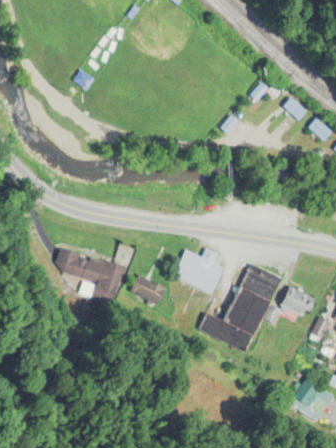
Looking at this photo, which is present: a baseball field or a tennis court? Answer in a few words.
baseball field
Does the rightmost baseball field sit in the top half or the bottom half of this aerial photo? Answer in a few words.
top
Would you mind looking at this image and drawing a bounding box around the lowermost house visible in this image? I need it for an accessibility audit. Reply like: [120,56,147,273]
[294,382,334,419]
